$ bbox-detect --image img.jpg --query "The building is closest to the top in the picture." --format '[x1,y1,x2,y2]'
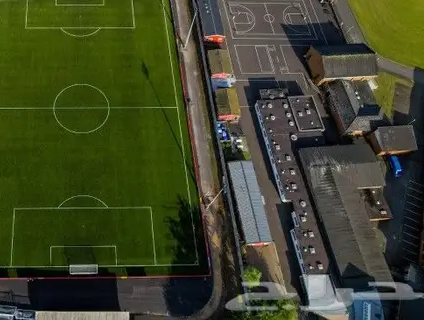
[196,0,224,40]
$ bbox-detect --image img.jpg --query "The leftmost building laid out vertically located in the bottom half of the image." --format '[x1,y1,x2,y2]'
[227,161,274,245]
